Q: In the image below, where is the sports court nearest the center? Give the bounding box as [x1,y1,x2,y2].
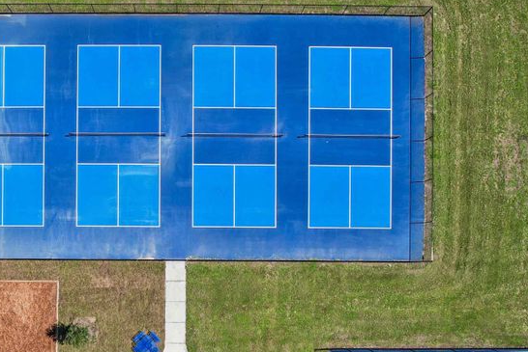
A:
[235,165,275,227]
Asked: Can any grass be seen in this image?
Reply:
Yes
